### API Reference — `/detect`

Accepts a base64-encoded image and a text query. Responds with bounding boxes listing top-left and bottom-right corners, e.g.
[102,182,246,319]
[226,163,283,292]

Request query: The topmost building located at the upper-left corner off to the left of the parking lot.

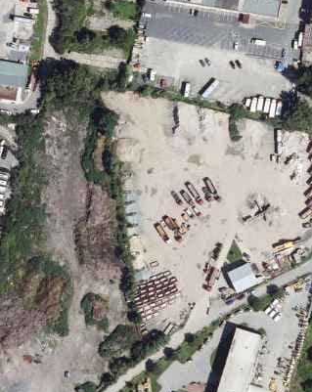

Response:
[14,18,33,38]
